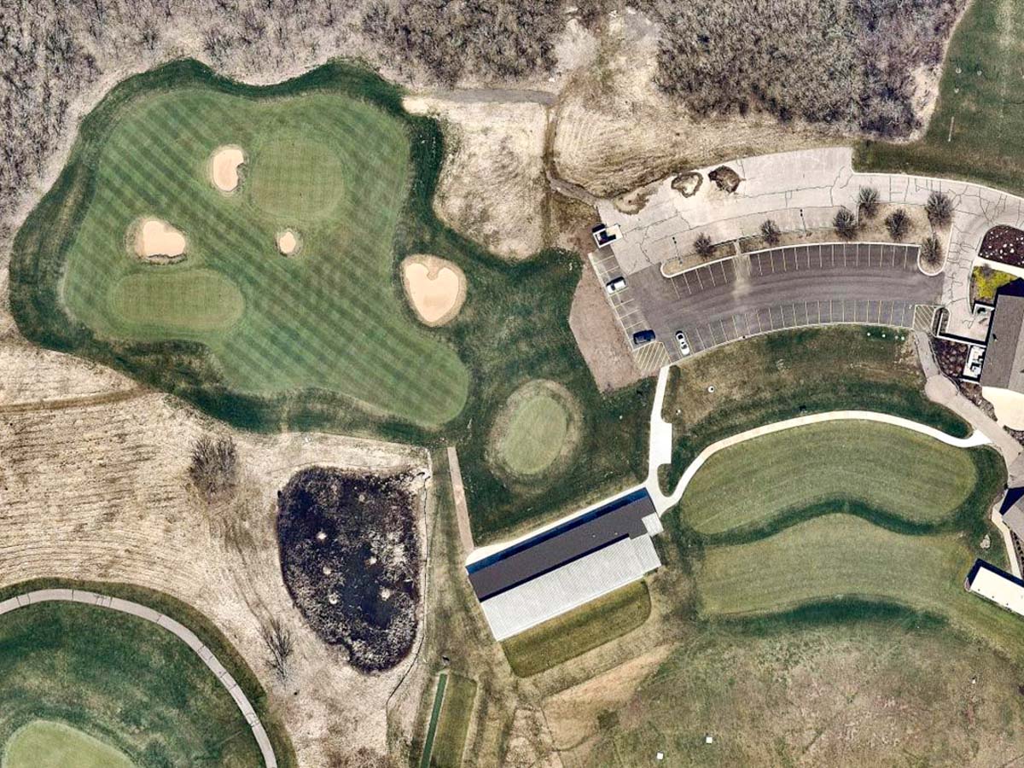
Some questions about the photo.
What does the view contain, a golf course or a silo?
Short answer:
golf course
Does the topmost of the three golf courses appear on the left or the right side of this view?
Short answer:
right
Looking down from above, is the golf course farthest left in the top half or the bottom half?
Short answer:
bottom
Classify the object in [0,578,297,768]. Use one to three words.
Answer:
golf course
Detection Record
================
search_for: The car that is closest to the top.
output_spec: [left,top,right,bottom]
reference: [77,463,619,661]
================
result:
[607,279,627,293]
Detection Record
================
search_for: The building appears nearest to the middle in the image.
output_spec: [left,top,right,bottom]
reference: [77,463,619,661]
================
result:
[469,495,664,641]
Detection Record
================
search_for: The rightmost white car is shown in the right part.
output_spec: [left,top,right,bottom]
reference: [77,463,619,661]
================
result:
[676,334,690,355]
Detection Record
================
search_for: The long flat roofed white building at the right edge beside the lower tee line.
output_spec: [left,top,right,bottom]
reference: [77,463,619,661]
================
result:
[970,567,1024,615]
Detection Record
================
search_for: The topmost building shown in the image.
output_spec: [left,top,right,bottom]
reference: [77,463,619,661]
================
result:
[980,294,1024,391]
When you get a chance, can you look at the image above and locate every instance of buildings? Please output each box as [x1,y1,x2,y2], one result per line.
[970,567,1024,615]
[469,495,664,641]
[1002,496,1024,540]
[980,294,1024,391]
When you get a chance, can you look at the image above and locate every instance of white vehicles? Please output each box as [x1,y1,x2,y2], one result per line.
[607,279,627,293]
[676,334,690,355]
